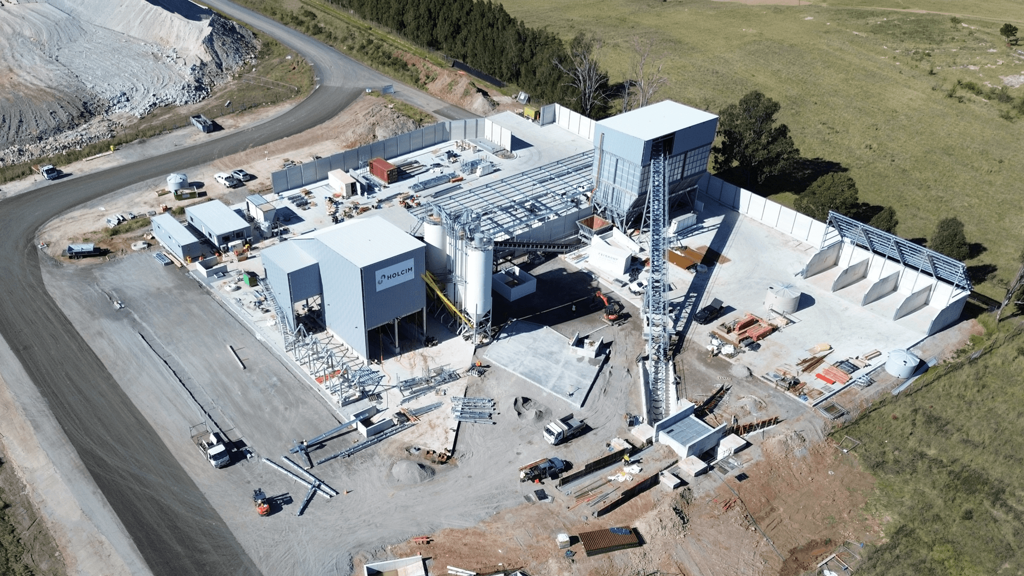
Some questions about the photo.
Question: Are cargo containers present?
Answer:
Yes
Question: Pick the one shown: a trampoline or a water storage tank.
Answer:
water storage tank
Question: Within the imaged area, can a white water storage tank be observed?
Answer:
Yes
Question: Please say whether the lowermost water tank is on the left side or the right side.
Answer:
right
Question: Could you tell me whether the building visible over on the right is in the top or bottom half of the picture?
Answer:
top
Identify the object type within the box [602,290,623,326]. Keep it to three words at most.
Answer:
work vehicle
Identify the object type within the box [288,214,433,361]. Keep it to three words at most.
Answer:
building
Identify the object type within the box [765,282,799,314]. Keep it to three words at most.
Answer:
water tank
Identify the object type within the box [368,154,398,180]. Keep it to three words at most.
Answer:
shipping container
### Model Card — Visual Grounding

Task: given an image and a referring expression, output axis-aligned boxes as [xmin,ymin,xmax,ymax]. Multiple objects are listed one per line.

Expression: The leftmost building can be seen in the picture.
[150,213,203,261]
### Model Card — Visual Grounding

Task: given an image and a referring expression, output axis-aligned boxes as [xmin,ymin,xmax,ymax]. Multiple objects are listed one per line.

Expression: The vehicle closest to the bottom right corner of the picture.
[691,292,722,323]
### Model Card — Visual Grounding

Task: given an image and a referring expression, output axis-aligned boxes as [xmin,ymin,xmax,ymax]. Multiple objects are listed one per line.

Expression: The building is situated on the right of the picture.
[592,98,718,223]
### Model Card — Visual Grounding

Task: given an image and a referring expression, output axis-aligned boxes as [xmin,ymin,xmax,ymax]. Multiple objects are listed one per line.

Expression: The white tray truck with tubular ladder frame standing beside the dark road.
[193,418,228,464]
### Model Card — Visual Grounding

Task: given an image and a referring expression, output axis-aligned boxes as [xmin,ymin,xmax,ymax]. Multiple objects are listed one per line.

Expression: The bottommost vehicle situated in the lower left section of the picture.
[252,478,269,516]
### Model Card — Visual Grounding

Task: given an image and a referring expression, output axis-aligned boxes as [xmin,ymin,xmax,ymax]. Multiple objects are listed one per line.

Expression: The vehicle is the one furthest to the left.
[33,160,56,179]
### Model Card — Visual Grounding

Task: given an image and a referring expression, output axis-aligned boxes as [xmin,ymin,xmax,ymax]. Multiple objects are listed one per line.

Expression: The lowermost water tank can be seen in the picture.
[884,346,923,381]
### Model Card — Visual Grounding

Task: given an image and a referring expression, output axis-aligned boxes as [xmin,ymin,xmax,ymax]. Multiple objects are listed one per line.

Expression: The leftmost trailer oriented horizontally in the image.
[57,239,116,257]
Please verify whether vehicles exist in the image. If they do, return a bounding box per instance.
[33,160,56,179]
[252,478,269,516]
[423,336,439,348]
[212,171,239,186]
[229,167,252,180]
[522,457,570,486]
[542,413,591,444]
[691,292,722,323]
[602,290,623,326]
[625,275,655,293]
[193,418,228,464]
